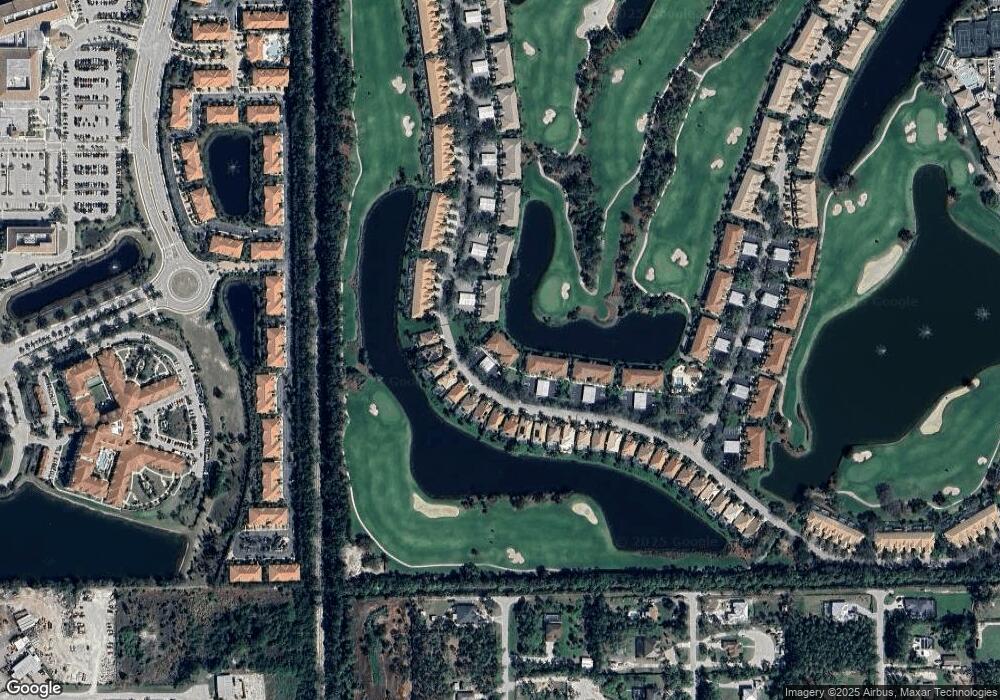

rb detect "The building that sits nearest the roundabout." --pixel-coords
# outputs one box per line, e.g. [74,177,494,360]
[208,235,244,259]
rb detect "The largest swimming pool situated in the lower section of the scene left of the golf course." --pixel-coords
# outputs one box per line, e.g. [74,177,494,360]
[94,450,117,480]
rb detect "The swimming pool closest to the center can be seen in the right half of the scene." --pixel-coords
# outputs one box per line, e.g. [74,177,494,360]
[672,366,703,391]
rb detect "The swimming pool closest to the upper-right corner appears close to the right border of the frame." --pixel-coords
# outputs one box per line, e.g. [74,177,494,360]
[956,62,987,90]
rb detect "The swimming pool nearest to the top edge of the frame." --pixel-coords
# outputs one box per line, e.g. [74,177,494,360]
[263,31,289,62]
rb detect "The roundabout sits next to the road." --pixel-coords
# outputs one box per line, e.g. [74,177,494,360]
[156,257,214,311]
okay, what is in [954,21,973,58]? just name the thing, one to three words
tennis court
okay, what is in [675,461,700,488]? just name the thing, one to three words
house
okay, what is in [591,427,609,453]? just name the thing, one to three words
house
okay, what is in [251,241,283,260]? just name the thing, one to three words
building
